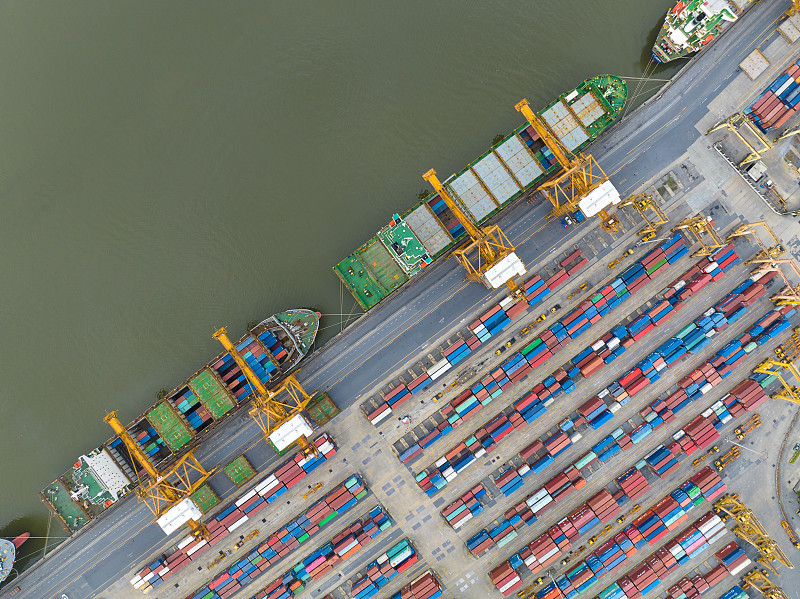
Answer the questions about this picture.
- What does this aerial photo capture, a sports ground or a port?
port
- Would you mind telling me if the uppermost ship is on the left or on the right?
right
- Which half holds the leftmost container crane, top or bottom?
bottom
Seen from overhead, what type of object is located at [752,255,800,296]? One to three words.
container crane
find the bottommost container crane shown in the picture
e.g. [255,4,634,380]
[739,567,789,599]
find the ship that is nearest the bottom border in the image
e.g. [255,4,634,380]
[0,537,32,581]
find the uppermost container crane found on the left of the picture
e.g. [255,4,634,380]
[207,323,324,464]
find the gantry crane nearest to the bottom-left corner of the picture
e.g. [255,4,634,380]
[97,406,220,547]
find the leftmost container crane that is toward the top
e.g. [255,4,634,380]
[419,165,530,308]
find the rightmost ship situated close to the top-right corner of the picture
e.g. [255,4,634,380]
[650,0,755,64]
